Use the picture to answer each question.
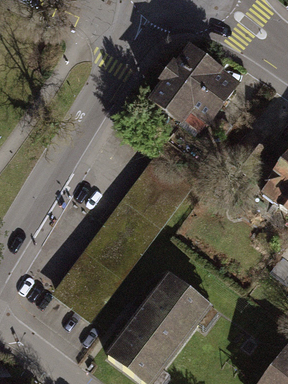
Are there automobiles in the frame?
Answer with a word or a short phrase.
Yes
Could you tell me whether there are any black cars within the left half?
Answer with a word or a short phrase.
Yes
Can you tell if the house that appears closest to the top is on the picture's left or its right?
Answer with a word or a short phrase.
right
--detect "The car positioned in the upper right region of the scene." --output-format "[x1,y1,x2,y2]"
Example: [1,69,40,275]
[208,18,232,34]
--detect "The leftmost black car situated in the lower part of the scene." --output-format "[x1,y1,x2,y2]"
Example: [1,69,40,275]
[10,230,26,252]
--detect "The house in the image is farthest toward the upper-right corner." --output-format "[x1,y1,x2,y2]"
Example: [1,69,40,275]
[148,42,247,140]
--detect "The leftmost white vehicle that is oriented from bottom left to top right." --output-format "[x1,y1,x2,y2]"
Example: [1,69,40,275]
[18,276,36,297]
